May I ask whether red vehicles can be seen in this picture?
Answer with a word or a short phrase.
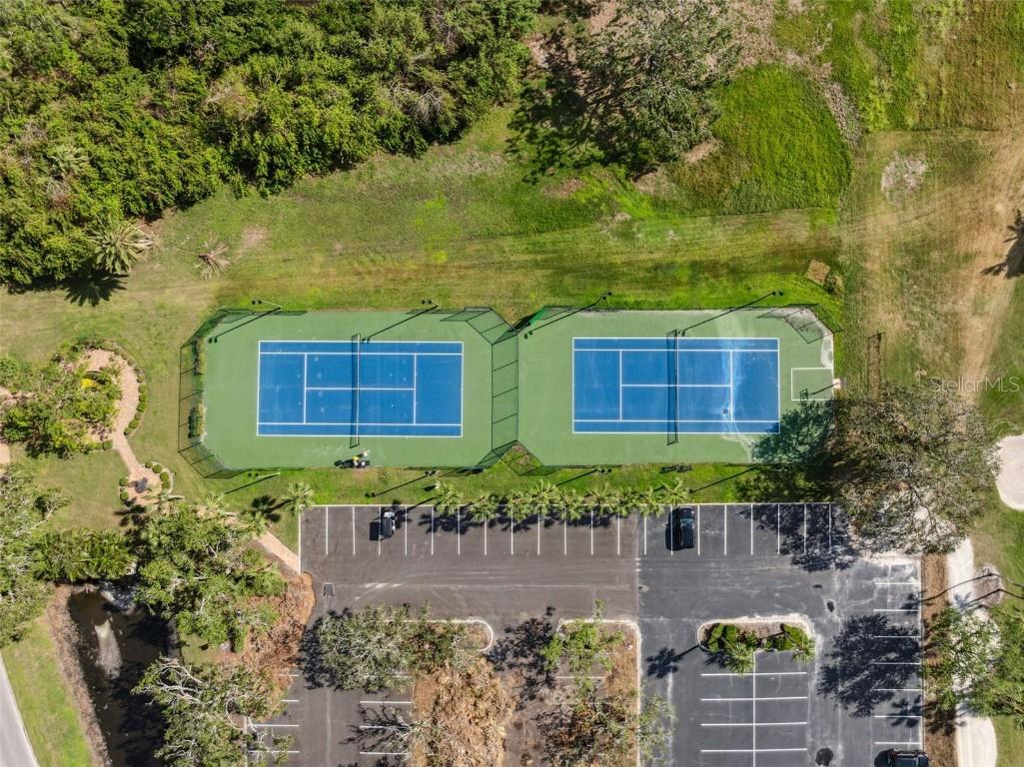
No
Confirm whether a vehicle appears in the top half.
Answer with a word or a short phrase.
No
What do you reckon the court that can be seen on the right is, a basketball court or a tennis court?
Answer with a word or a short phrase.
tennis court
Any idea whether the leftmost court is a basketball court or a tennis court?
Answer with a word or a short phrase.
tennis court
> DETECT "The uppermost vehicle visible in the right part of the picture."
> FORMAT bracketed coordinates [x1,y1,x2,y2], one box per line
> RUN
[678,508,699,550]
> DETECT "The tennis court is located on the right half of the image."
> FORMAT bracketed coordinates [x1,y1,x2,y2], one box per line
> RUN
[518,307,833,466]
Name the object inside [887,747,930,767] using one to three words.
car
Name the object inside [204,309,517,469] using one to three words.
tennis court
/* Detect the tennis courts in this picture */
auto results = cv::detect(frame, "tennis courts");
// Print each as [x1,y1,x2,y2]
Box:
[204,309,517,469]
[518,307,833,466]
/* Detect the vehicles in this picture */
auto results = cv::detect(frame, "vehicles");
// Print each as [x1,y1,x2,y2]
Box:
[887,747,930,767]
[382,515,396,540]
[678,508,699,550]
